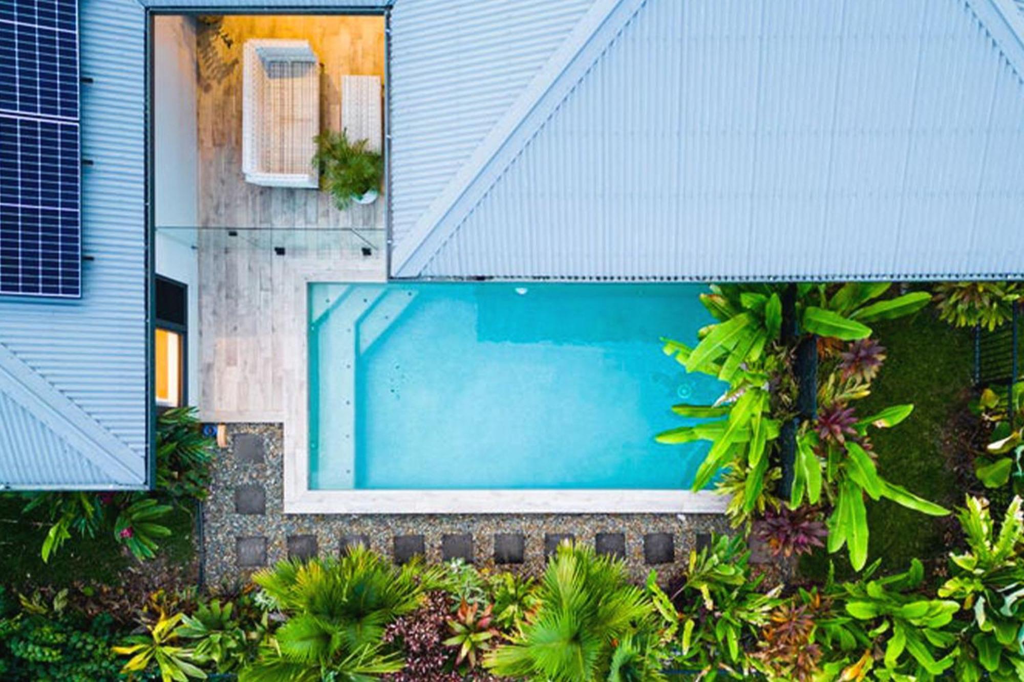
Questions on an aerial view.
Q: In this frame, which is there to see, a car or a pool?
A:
pool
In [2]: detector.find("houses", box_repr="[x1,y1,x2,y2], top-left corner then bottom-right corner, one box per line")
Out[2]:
[0,0,1024,494]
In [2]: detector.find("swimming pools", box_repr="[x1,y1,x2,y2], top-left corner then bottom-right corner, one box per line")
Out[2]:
[308,282,736,490]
